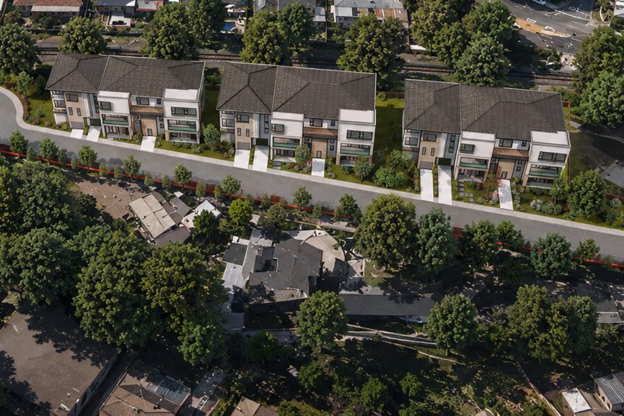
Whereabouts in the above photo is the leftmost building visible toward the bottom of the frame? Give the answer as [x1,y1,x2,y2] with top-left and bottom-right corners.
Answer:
[0,308,120,416]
